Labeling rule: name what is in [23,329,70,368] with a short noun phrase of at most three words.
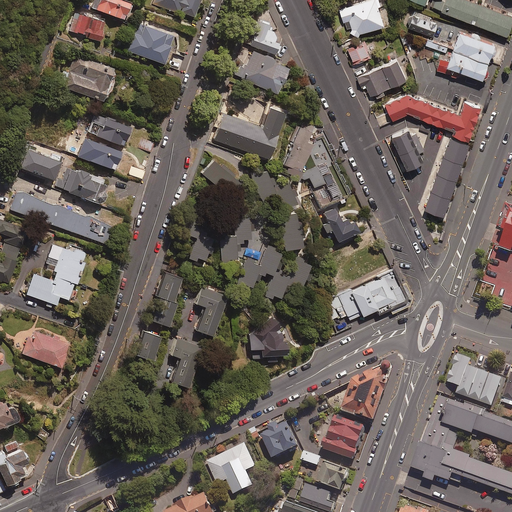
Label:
house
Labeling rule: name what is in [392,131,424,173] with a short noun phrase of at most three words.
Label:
house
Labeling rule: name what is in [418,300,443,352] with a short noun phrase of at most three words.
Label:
roundabout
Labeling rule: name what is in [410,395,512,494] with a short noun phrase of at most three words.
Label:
building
